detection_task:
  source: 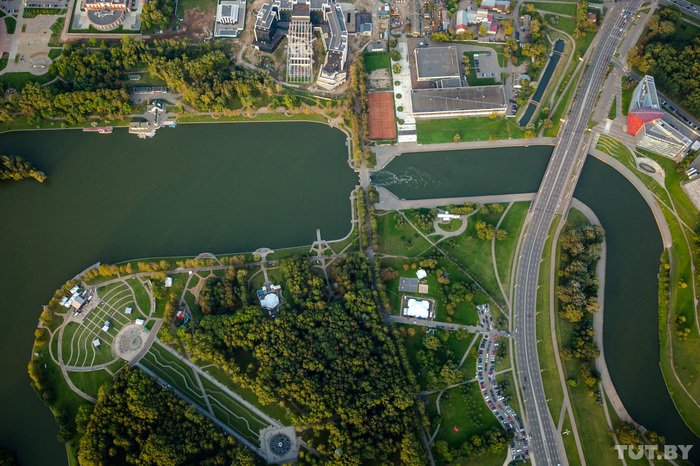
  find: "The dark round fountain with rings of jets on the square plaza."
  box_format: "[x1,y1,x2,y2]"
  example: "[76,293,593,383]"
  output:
[269,433,291,456]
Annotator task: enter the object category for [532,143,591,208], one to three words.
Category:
bridge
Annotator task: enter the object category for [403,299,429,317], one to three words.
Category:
tent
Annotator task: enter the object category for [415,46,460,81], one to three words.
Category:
building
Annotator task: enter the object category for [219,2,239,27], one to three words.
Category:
house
